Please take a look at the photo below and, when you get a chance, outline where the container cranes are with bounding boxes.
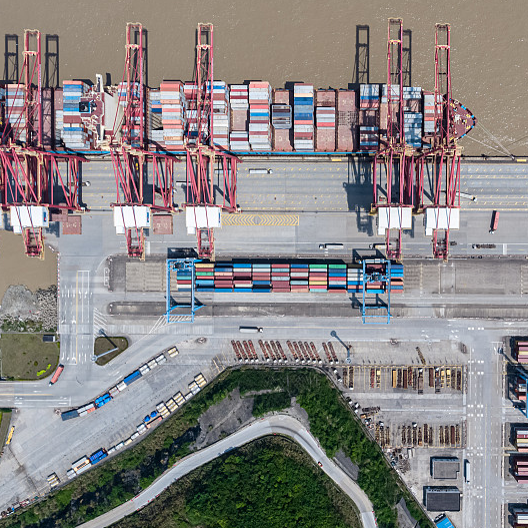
[104,23,181,260]
[373,16,414,260]
[358,258,394,323]
[181,22,242,260]
[510,369,528,416]
[0,28,92,260]
[166,258,208,323]
[412,22,462,260]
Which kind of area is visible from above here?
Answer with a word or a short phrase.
port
